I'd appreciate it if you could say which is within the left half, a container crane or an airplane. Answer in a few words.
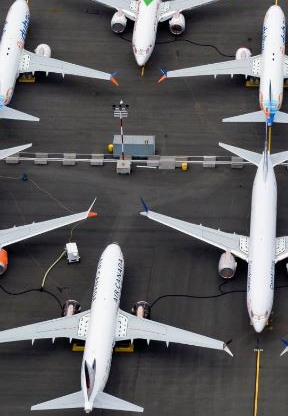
airplane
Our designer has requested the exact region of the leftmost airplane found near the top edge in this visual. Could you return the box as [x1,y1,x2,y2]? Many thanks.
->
[0,2,119,122]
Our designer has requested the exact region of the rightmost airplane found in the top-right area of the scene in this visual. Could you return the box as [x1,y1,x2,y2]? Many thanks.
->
[157,6,288,129]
